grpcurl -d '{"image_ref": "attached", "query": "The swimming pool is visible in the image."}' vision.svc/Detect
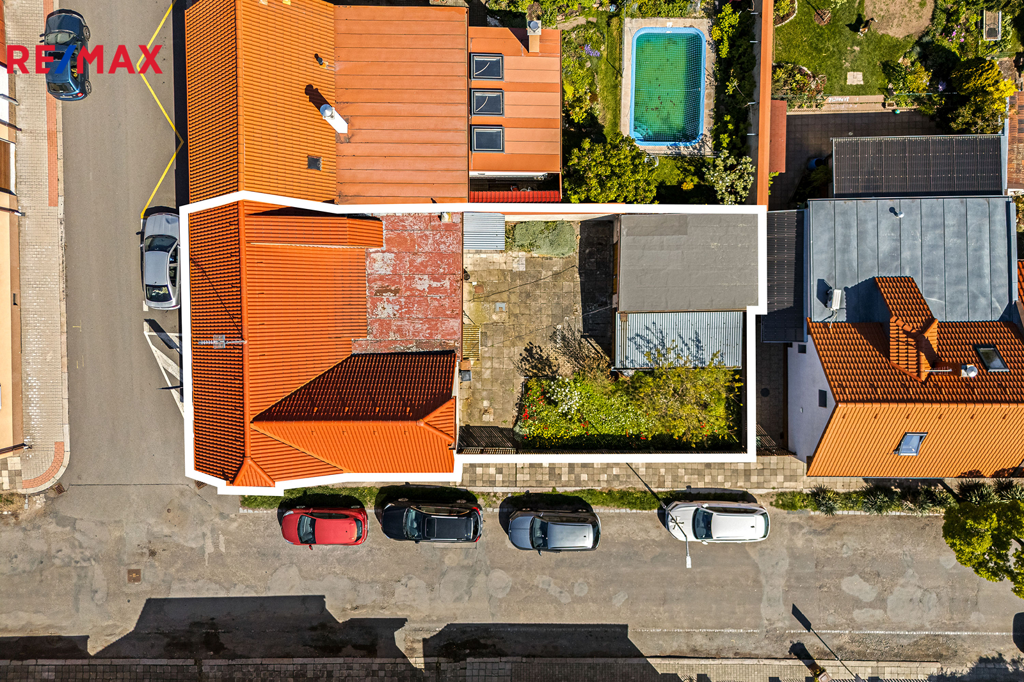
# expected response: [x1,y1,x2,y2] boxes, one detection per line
[631,21,707,144]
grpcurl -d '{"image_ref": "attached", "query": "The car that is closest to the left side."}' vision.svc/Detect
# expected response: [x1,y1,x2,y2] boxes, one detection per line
[37,13,90,101]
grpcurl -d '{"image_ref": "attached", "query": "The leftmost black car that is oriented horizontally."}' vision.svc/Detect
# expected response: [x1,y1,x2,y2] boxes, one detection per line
[382,499,482,549]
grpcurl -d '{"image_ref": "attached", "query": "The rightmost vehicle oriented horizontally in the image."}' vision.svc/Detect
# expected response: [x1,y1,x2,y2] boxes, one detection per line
[668,499,768,548]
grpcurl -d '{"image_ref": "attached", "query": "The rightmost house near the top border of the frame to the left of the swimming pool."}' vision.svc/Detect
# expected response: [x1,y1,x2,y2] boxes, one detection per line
[181,0,564,220]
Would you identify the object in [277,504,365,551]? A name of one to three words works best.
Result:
car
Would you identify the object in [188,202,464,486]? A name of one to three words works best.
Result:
house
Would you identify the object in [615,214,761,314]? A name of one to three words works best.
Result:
building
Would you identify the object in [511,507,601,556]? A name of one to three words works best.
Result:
car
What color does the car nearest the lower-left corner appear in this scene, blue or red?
red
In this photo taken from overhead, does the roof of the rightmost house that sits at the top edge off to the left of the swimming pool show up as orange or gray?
orange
